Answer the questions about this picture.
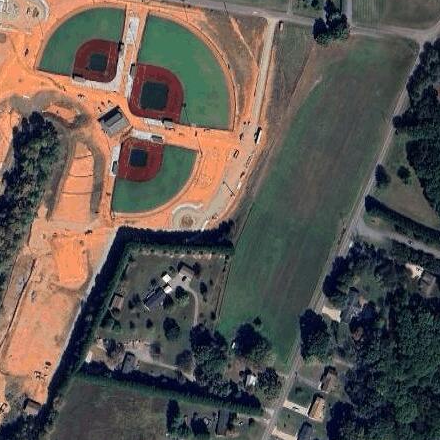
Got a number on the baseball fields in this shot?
three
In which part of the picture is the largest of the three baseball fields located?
top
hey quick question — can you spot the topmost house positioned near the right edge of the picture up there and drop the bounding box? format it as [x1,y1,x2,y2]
[416,268,438,291]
